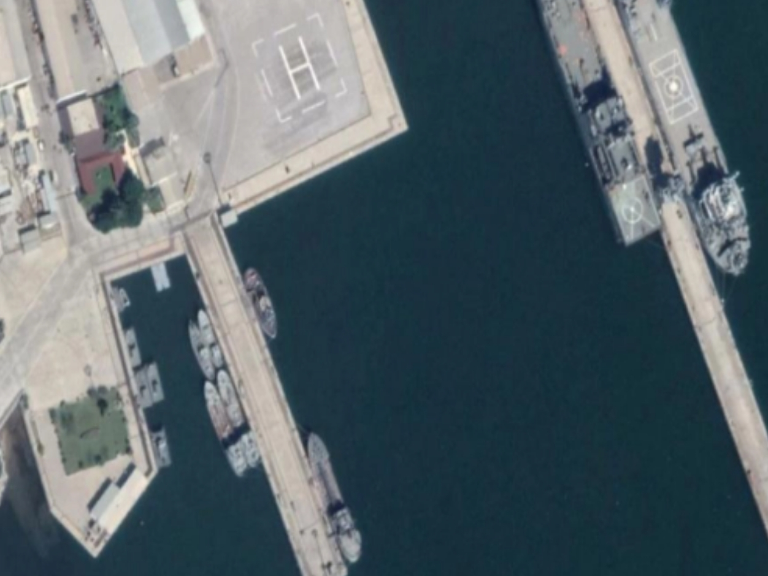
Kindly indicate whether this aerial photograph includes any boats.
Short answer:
Yes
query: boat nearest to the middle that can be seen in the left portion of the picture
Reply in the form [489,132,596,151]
[244,267,277,338]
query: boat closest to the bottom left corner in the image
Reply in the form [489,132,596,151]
[151,430,171,467]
